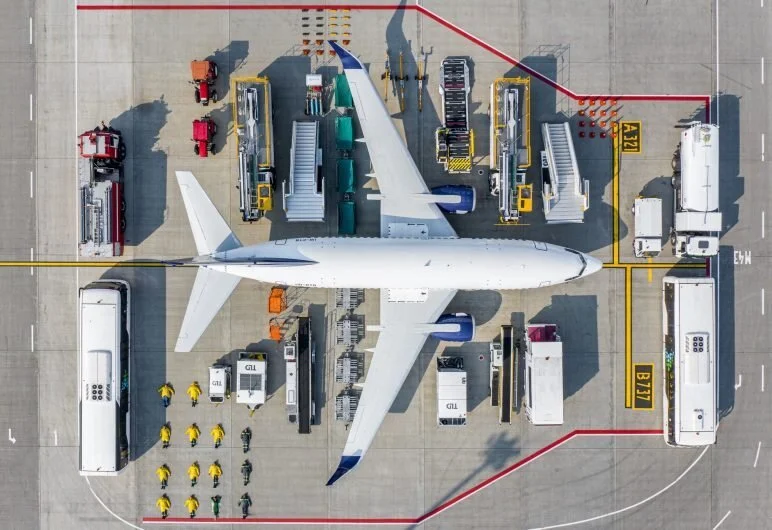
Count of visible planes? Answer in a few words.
one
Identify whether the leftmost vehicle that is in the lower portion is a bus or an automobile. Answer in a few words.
bus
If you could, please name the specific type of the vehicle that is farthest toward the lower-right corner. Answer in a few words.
bus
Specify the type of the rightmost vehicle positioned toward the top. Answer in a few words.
truck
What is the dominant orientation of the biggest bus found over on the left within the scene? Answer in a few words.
up and down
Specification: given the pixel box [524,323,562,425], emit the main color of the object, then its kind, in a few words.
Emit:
white truck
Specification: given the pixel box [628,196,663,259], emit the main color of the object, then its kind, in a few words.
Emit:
white van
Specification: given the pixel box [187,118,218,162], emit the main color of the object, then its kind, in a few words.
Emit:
red work vehicle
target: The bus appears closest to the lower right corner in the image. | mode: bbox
[662,275,716,449]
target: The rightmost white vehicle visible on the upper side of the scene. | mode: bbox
[666,121,722,261]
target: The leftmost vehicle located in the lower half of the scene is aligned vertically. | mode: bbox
[78,276,133,476]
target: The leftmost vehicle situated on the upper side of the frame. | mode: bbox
[78,120,127,257]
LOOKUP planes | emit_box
[160,41,601,487]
